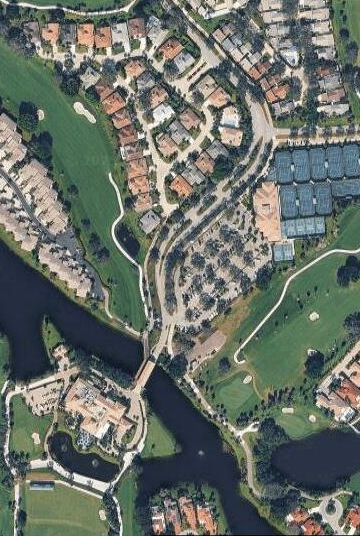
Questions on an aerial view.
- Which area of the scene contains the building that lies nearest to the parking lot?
right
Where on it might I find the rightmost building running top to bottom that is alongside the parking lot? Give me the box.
[255,181,281,241]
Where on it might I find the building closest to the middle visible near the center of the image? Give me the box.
[138,210,163,234]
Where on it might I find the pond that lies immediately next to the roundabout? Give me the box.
[274,431,360,489]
